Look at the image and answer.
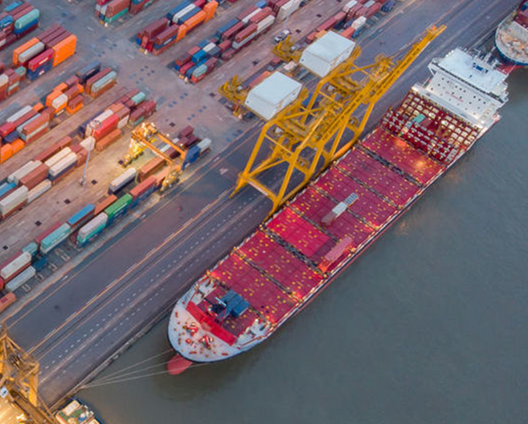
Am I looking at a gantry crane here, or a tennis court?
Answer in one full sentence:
Looking from above, you can make out a gantry crane.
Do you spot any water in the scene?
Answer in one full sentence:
Yes, some water is visible.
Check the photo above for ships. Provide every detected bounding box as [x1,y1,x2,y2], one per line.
[52,400,100,424]
[160,45,520,379]
[491,7,528,79]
